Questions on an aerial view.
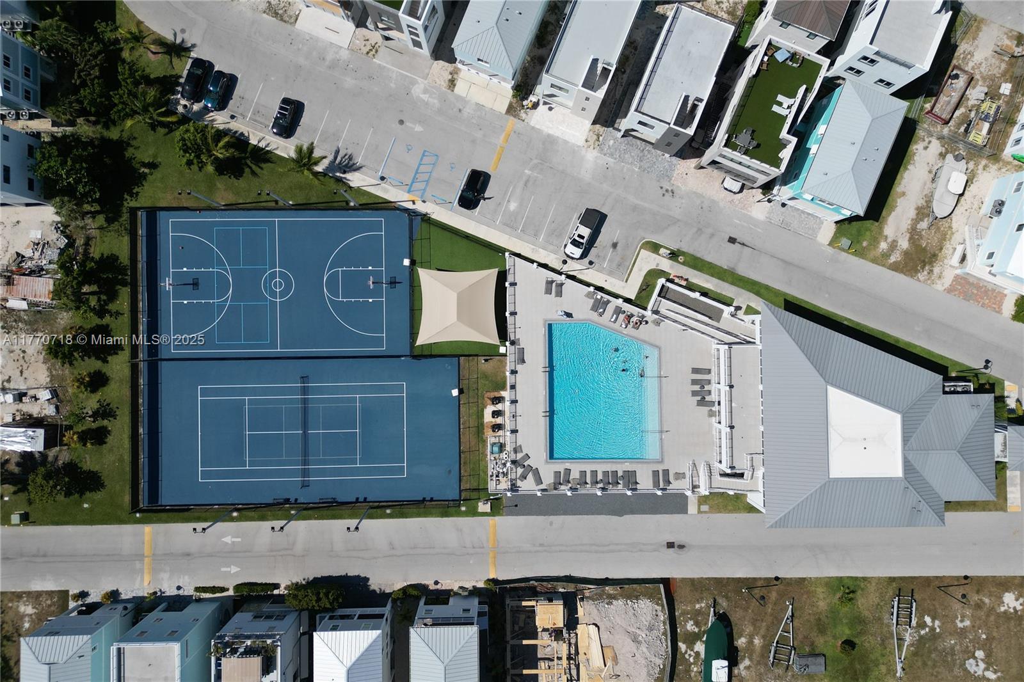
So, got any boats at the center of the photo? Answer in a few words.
No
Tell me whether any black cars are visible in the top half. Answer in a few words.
Yes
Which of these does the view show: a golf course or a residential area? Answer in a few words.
residential area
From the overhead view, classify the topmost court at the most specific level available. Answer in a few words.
basketball court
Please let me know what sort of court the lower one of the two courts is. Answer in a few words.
tennis court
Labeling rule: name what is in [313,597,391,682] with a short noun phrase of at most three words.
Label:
house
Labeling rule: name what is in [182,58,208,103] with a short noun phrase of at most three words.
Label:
car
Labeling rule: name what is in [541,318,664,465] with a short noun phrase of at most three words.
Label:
swimming pool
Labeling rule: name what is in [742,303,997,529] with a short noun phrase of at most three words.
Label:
building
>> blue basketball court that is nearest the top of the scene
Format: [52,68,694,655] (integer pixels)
[142,210,421,359]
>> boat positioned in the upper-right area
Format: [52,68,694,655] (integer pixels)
[938,150,972,215]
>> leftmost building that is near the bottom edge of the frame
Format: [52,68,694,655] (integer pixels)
[20,598,140,682]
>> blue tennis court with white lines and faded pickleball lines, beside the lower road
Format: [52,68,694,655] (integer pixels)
[142,357,460,507]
